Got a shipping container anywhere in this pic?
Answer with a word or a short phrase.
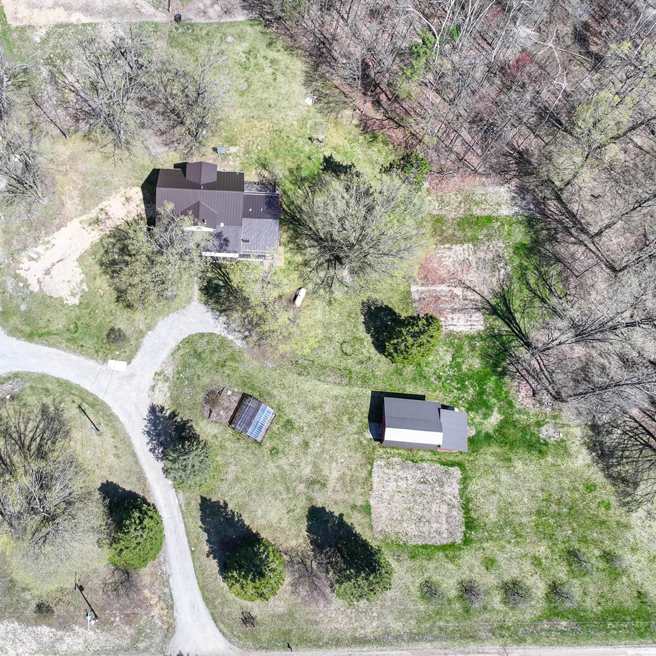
No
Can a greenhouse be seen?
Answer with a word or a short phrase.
Yes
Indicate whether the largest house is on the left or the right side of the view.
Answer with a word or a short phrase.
left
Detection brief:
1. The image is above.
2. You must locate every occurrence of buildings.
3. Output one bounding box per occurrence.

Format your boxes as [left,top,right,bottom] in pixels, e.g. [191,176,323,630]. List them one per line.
[155,157,279,270]
[228,394,279,444]
[370,400,464,453]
